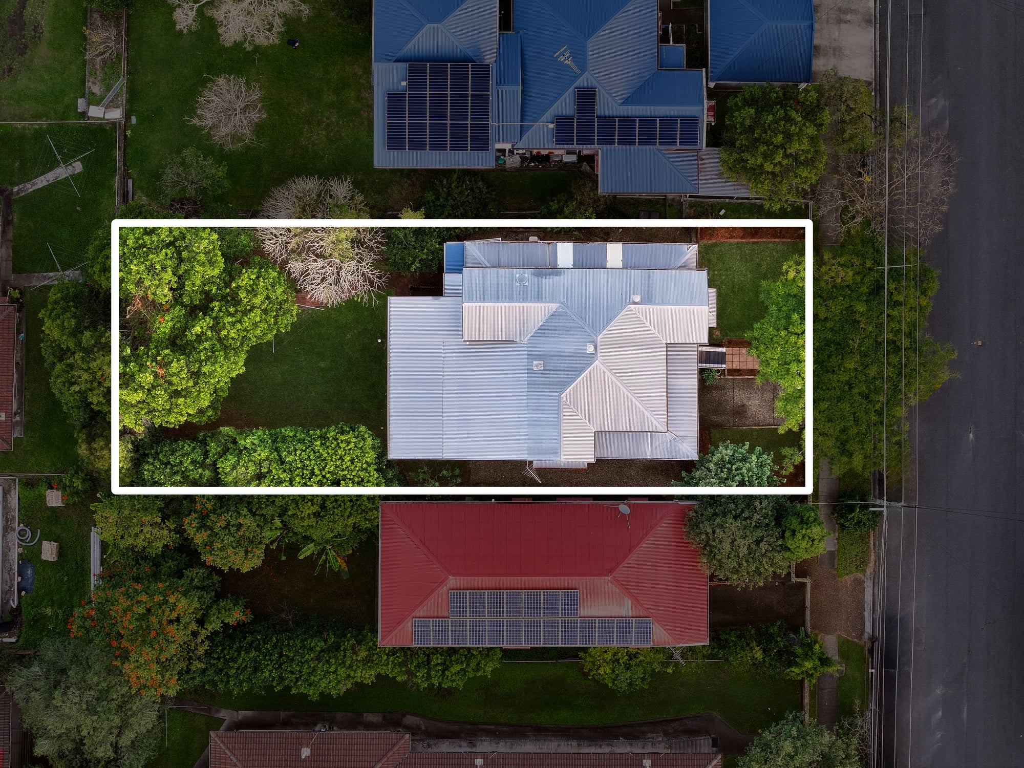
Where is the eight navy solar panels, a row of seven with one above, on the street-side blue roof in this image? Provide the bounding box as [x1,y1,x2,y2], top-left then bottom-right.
[553,89,702,144]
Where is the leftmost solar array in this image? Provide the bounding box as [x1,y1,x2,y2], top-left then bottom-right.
[385,63,491,151]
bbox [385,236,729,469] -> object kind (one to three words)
house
